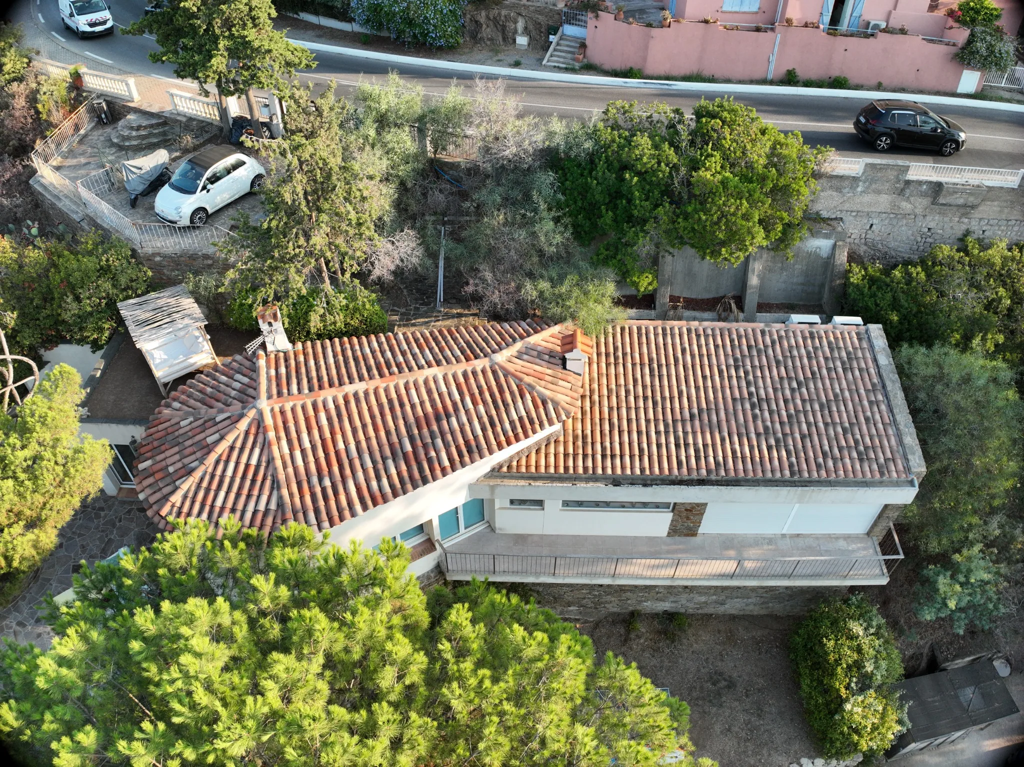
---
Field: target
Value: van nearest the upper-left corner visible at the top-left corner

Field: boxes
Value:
[62,0,120,38]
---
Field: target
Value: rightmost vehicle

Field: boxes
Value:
[856,94,976,157]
